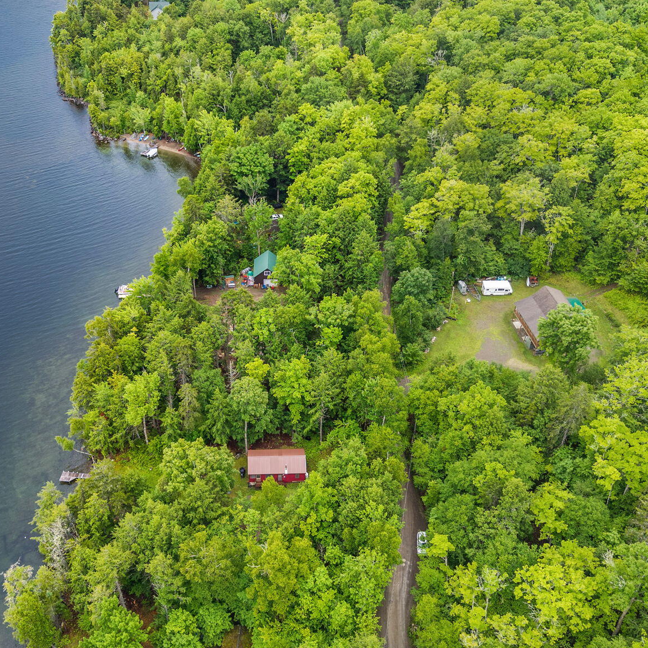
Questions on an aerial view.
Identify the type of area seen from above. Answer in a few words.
forest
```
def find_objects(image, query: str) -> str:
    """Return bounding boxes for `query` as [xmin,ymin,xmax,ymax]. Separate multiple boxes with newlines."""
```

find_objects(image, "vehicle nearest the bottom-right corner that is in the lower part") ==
[416,527,428,553]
